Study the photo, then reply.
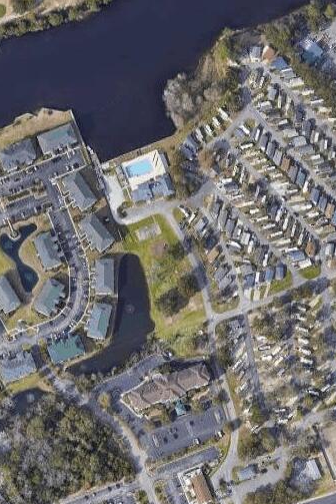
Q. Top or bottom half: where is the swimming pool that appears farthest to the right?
top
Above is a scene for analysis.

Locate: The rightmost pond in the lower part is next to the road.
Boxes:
[63,253,154,374]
